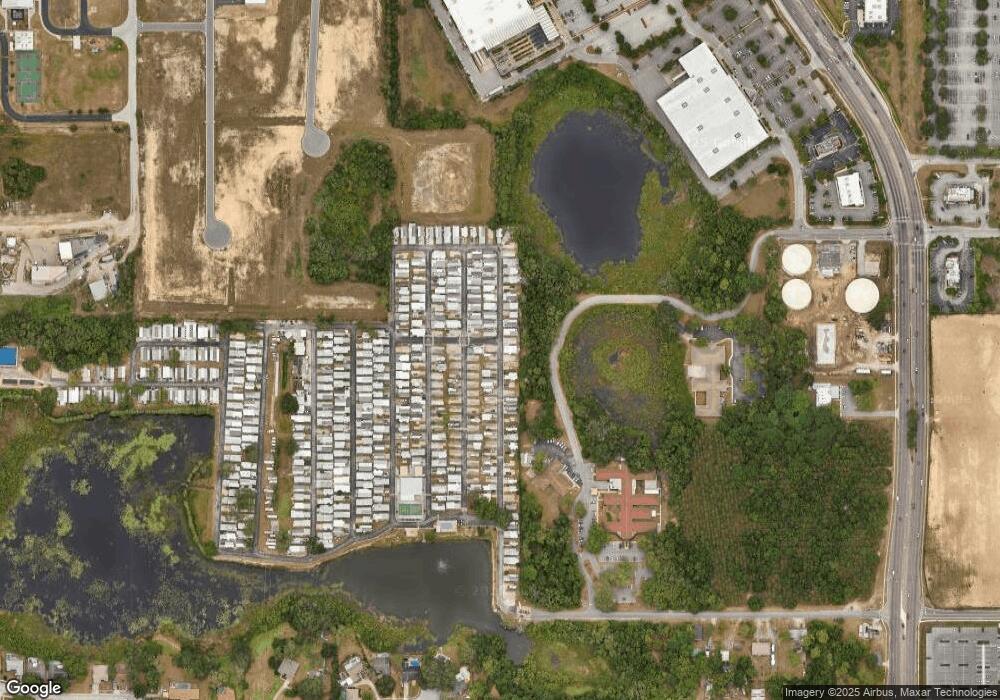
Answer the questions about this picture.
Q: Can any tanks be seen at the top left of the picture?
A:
No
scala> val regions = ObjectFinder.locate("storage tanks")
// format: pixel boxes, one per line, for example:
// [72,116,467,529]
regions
[782,278,812,309]
[845,277,880,312]
[781,244,812,275]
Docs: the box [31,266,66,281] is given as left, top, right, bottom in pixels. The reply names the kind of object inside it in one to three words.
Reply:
building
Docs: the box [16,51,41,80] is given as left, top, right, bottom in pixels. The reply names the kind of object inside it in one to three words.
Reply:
sports court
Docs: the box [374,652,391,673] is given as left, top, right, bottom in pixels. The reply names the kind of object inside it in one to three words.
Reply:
house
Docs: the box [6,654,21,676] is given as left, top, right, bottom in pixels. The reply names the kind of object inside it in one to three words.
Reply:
house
